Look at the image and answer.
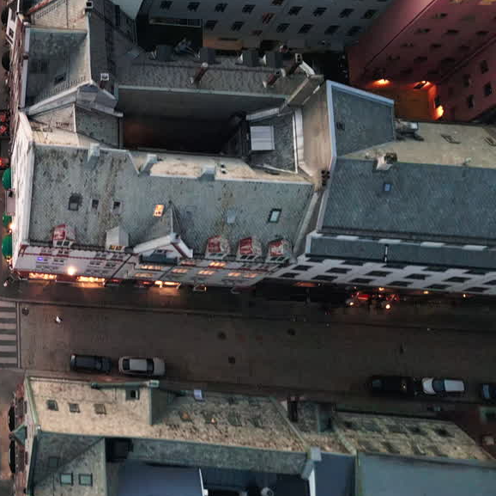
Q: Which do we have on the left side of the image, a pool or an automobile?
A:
automobile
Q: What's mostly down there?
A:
buildings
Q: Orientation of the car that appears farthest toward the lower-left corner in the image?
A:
from side to side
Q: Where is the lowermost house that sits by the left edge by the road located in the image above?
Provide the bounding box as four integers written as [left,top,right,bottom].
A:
[2,378,169,496]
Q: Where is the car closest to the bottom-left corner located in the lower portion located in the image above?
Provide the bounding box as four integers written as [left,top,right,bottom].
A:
[68,353,112,374]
